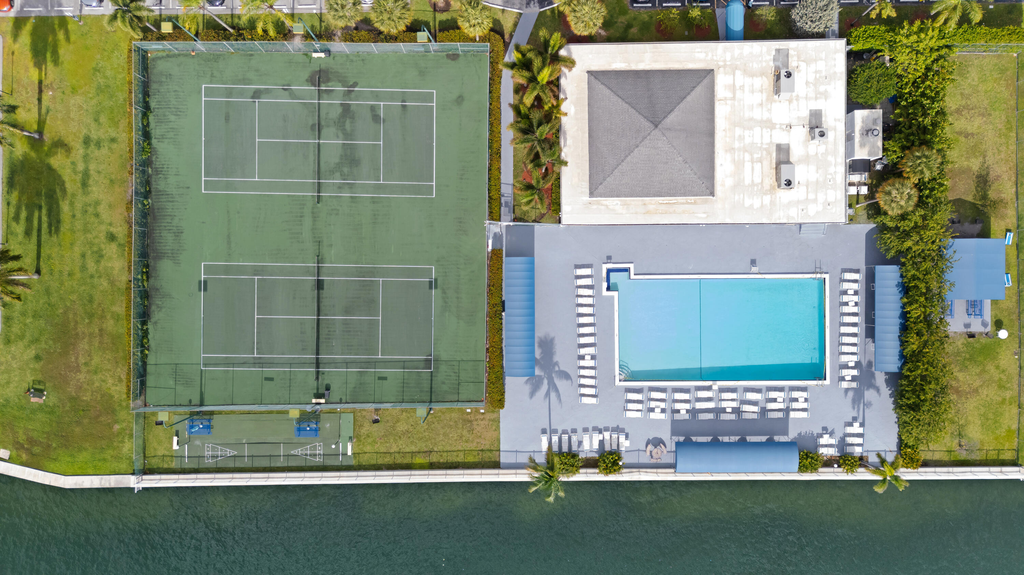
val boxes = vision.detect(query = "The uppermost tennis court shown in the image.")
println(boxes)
[203,85,435,197]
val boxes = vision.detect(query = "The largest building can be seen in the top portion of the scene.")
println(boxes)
[560,38,847,225]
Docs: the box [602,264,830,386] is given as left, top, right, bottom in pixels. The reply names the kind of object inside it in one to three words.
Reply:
swimming pool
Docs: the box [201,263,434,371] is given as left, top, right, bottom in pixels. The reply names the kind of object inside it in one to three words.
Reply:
tennis court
